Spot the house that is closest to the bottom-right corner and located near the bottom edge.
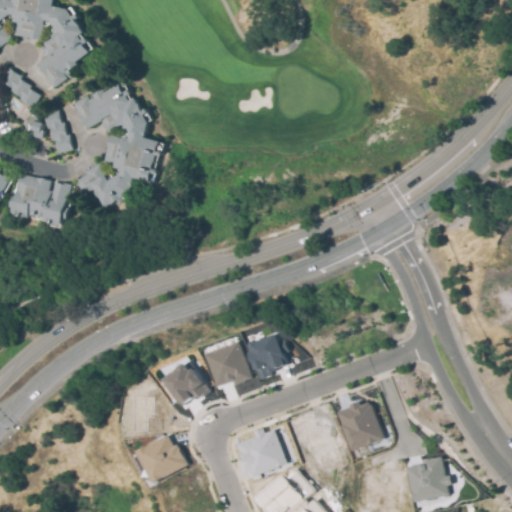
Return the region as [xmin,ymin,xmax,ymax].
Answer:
[408,457,450,502]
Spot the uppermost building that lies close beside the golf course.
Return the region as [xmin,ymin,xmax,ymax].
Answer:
[0,0,92,94]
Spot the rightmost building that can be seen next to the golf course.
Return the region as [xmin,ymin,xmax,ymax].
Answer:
[73,80,164,212]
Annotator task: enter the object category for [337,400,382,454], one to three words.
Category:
house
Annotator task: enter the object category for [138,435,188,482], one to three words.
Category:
house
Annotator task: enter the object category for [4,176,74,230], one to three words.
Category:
building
